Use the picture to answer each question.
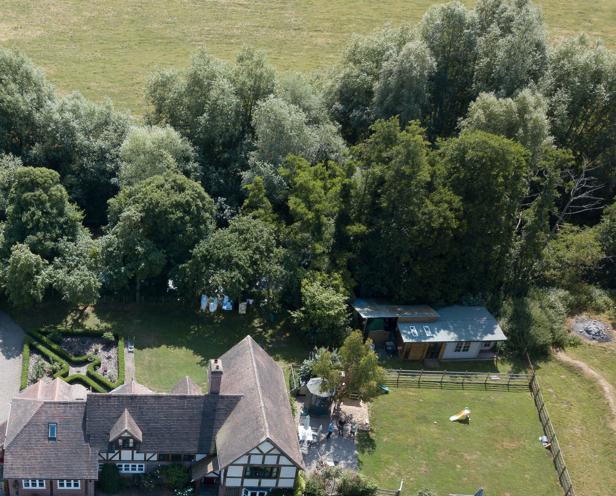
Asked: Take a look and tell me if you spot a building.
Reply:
Yes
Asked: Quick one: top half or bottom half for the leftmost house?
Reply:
bottom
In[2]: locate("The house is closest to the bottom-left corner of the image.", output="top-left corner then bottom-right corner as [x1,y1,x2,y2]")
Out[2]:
[0,334,307,496]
